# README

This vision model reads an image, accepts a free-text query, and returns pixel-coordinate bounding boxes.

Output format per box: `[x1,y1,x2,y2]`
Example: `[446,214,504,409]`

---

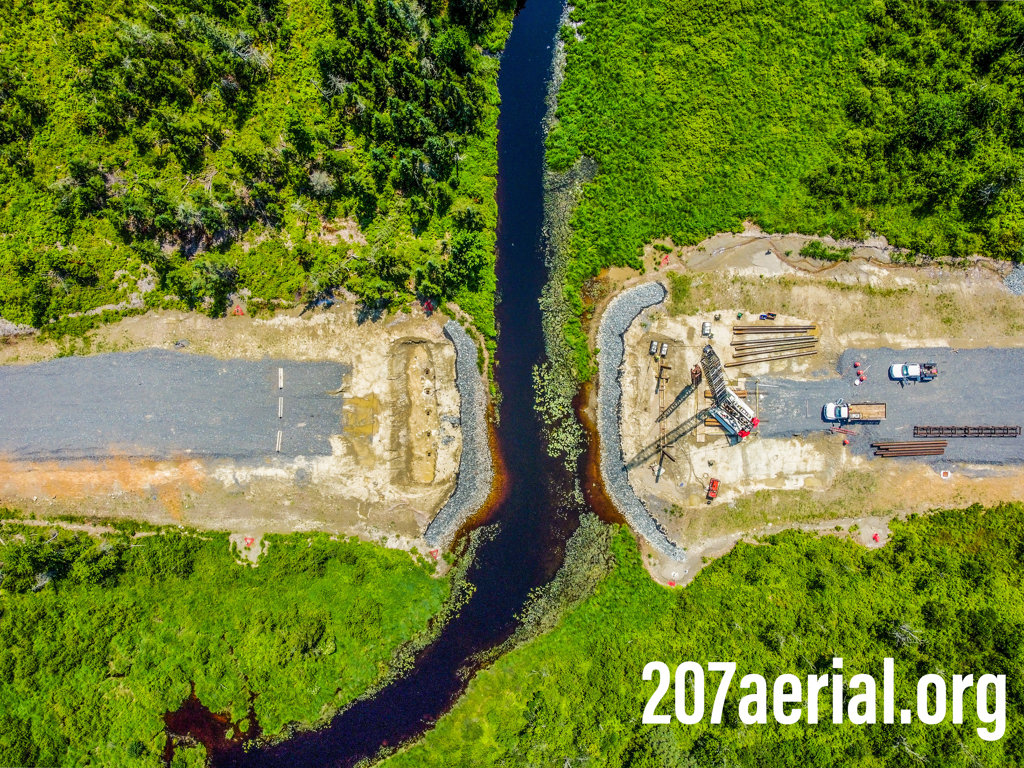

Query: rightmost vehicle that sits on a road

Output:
[889,360,941,385]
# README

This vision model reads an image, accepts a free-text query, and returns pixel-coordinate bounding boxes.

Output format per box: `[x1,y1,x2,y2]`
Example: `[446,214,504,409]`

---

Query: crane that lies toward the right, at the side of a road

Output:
[697,343,764,441]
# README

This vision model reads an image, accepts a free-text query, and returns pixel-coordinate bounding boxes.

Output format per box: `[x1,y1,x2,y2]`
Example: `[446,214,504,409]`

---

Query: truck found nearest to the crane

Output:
[822,396,890,422]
